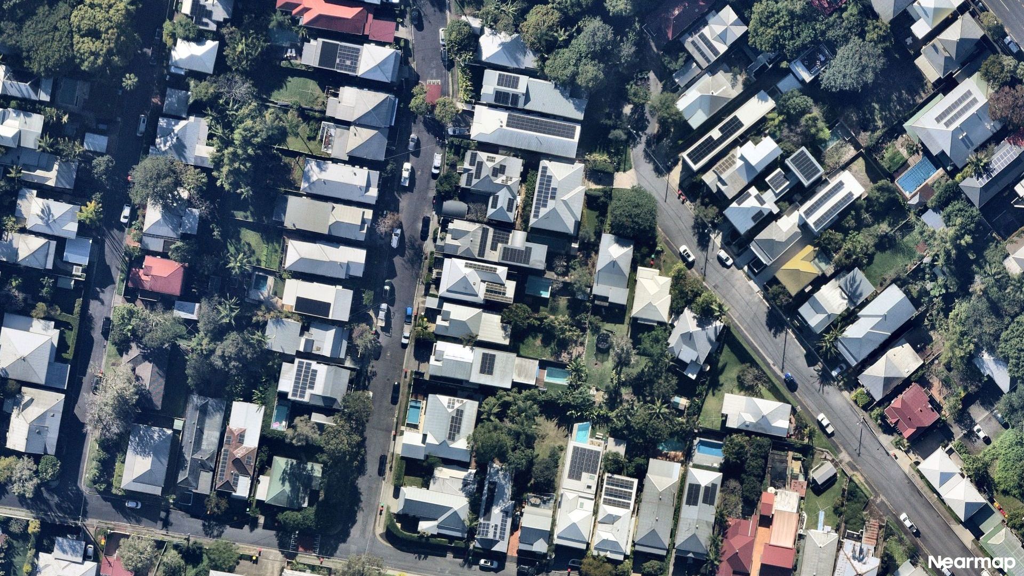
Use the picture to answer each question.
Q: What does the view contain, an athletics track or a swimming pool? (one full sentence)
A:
Visible in the photo is a swimming pool.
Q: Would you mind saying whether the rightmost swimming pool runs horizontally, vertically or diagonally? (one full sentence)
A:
The rightmost swimming pool has been laid out diagonally relative to the frame.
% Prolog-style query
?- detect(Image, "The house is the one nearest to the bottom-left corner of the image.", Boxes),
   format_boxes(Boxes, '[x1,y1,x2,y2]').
[33,537,98,576]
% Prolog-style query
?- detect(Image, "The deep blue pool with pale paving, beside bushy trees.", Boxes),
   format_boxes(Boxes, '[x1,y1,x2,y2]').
[695,439,725,458]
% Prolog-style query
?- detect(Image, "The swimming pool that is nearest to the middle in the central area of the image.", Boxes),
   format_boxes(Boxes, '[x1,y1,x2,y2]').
[524,275,553,298]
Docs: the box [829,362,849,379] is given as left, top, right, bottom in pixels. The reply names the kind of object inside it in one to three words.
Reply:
car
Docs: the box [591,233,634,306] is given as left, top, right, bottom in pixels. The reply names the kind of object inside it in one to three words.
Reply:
house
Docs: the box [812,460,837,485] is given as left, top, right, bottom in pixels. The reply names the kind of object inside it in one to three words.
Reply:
shed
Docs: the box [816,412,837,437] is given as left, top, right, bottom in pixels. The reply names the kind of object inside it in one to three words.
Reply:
truck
